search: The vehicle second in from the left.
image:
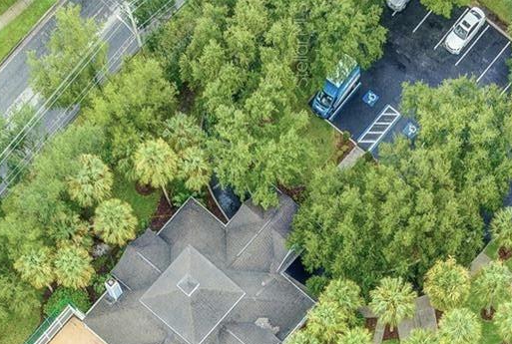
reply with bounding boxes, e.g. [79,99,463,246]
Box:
[387,0,409,12]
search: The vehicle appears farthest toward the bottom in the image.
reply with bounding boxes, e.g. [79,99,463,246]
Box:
[313,51,361,126]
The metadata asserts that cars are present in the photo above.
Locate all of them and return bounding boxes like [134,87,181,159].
[387,0,409,12]
[449,0,487,50]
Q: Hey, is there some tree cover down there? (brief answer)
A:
Yes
